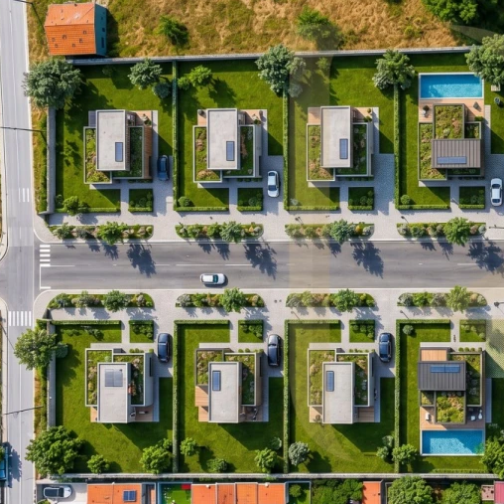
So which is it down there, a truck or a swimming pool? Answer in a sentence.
There is a swimming pool in the scene.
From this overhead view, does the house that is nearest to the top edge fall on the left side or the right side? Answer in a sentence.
It is on the left.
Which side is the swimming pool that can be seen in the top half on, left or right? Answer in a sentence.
It is on the right.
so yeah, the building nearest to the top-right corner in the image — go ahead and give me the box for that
[419,100,486,181]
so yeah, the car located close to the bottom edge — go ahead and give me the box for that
[42,485,72,499]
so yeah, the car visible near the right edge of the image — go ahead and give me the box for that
[490,178,504,206]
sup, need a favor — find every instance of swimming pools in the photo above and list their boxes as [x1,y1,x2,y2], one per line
[421,429,485,456]
[419,72,484,100]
